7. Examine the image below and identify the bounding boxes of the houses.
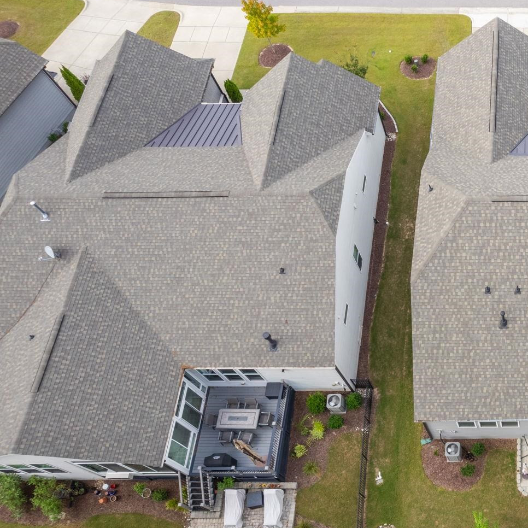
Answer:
[0,30,389,489]
[409,17,528,446]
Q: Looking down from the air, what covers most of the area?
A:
buildings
